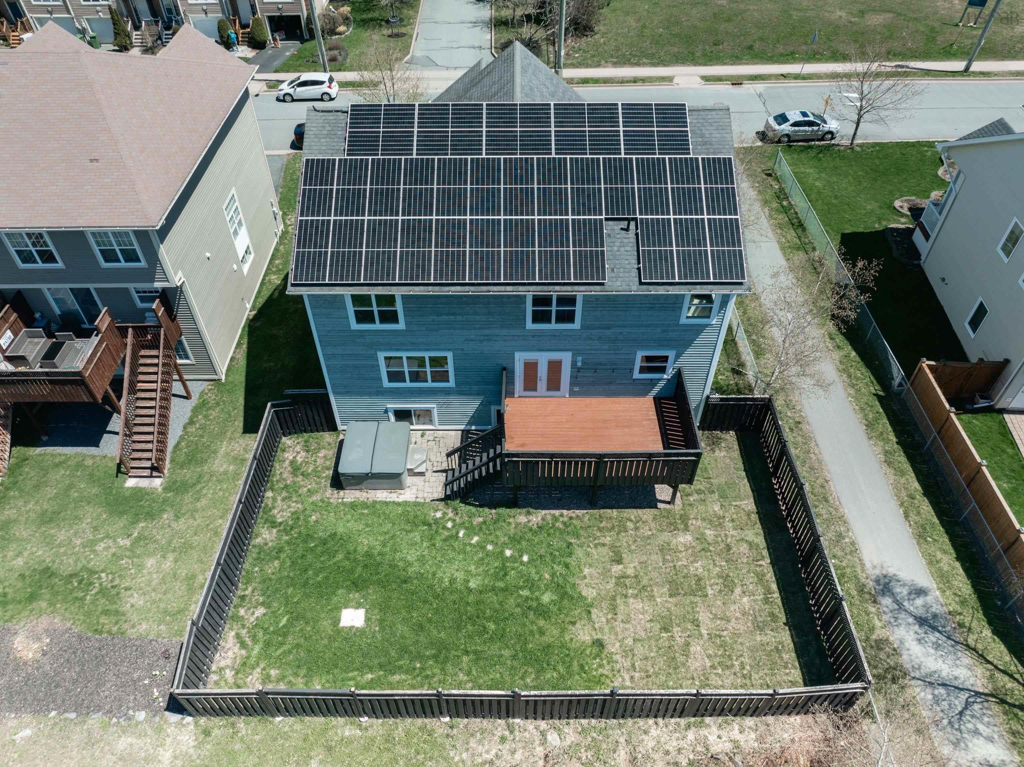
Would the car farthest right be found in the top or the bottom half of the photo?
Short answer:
top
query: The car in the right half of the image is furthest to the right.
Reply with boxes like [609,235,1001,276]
[764,107,847,140]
